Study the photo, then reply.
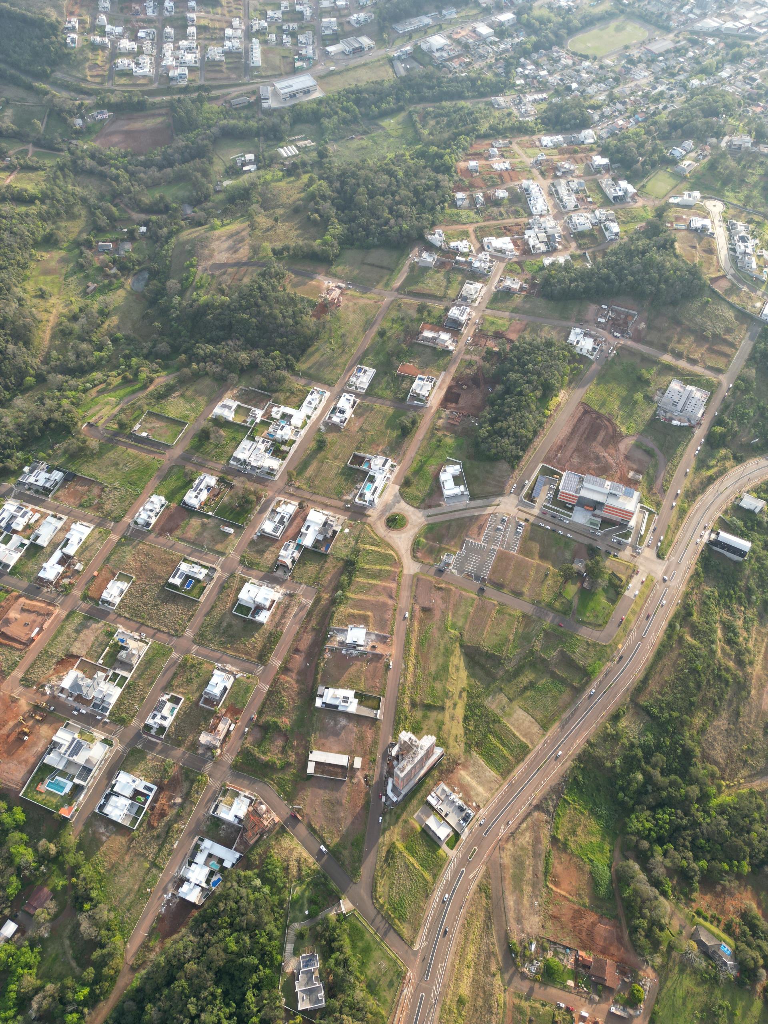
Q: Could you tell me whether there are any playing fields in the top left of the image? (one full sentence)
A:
No, no playing field can be made out in the top left of the image.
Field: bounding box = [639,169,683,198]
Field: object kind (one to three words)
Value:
sports field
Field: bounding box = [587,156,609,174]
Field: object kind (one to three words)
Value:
house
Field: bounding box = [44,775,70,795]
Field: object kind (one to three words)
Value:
swimming pool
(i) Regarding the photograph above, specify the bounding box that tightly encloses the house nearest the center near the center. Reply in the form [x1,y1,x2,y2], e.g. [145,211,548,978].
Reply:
[364,455,394,506]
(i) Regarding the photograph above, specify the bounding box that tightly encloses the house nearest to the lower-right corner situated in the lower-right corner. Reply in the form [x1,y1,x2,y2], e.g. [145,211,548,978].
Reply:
[688,924,740,973]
